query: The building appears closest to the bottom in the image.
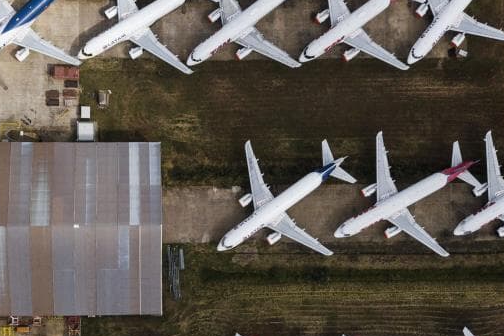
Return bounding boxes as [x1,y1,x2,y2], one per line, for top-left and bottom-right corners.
[0,141,163,317]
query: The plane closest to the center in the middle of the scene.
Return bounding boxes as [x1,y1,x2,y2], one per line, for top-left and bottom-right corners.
[217,138,359,256]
